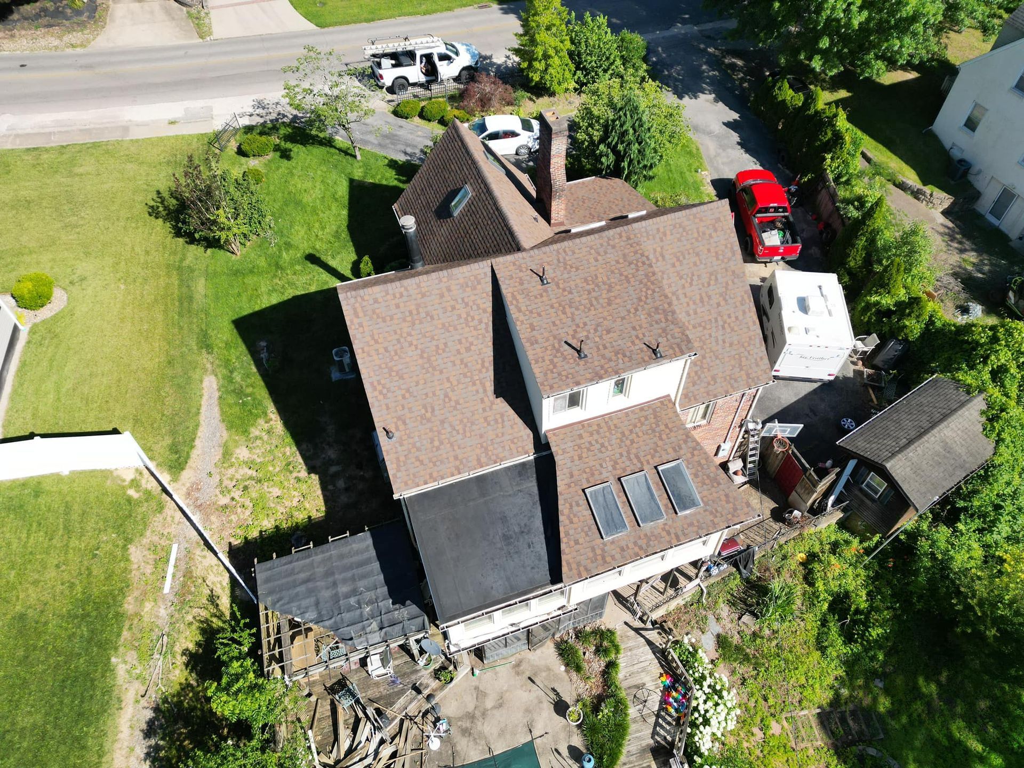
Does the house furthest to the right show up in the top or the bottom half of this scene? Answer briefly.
top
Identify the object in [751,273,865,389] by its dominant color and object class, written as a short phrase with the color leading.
white vehicle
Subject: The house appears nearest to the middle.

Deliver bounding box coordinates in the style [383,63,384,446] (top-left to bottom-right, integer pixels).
[332,112,778,672]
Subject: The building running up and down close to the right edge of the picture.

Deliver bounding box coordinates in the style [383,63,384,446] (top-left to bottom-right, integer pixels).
[918,14,1024,244]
